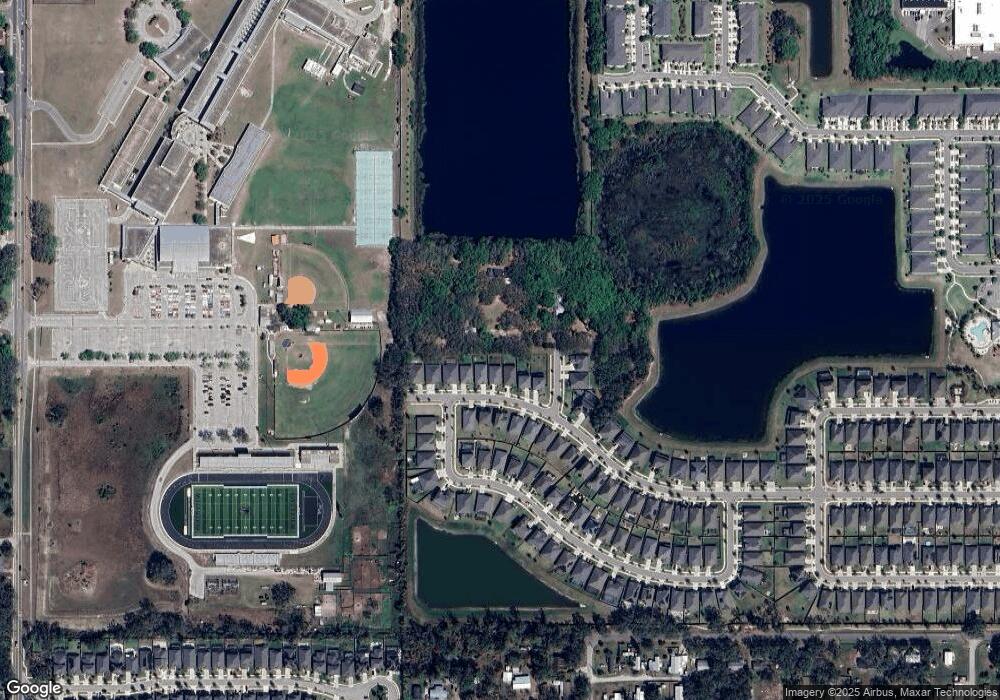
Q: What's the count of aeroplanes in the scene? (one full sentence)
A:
The photo contains no aeroplanes.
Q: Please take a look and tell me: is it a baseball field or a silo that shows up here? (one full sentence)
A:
Visible in the photo is a baseball field.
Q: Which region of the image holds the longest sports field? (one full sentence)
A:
The longest sports field sits in the bottom left section of the image.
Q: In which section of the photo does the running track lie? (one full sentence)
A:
The running track sits in the bottom left section of the image.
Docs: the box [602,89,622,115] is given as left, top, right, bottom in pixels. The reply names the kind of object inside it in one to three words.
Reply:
house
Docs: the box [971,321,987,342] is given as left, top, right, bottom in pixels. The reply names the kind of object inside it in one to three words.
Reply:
swimming pool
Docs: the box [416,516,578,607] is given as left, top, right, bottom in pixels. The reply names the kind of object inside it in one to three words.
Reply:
pond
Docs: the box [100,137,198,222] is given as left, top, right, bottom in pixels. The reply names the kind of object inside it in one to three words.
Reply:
building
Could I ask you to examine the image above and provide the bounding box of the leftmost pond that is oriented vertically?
[798,0,833,78]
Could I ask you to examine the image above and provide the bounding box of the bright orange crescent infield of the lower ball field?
[282,339,327,387]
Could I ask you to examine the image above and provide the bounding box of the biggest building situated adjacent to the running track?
[300,447,338,466]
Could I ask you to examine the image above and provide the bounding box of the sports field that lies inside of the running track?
[192,485,299,538]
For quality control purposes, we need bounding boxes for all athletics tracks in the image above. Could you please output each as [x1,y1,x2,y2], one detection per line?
[160,472,333,549]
